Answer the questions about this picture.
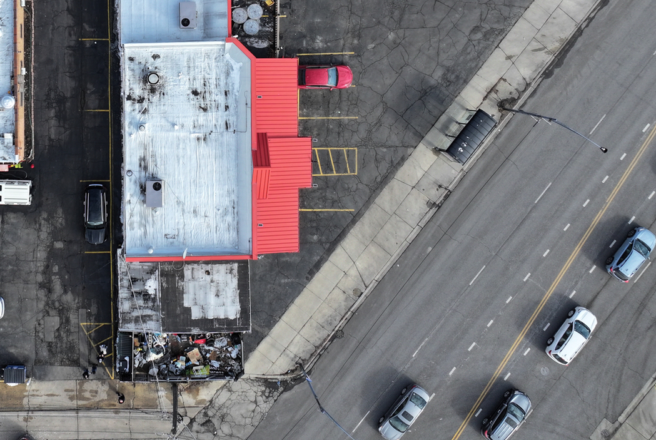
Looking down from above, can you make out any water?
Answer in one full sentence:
No, the scene doesn't show any water.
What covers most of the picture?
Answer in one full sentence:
The largest share of the image is taken up by paved ground.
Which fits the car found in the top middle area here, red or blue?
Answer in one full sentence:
The color of the car found in the top middle area is red.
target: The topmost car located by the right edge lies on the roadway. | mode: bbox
[606,228,654,282]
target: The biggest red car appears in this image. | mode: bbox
[299,63,353,92]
